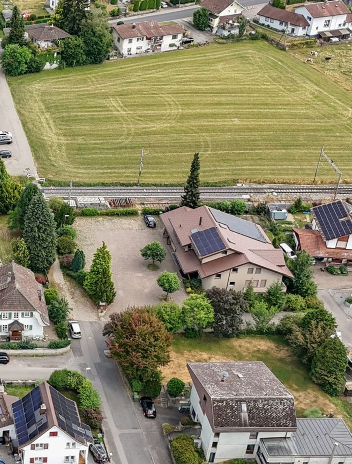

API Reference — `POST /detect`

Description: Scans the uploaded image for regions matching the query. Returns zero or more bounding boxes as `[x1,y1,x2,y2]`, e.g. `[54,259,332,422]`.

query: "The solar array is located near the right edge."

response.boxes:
[318,196,352,243]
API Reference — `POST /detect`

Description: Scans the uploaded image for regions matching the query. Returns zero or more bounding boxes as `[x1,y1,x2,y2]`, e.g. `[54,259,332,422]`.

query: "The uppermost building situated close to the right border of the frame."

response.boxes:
[289,0,352,36]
